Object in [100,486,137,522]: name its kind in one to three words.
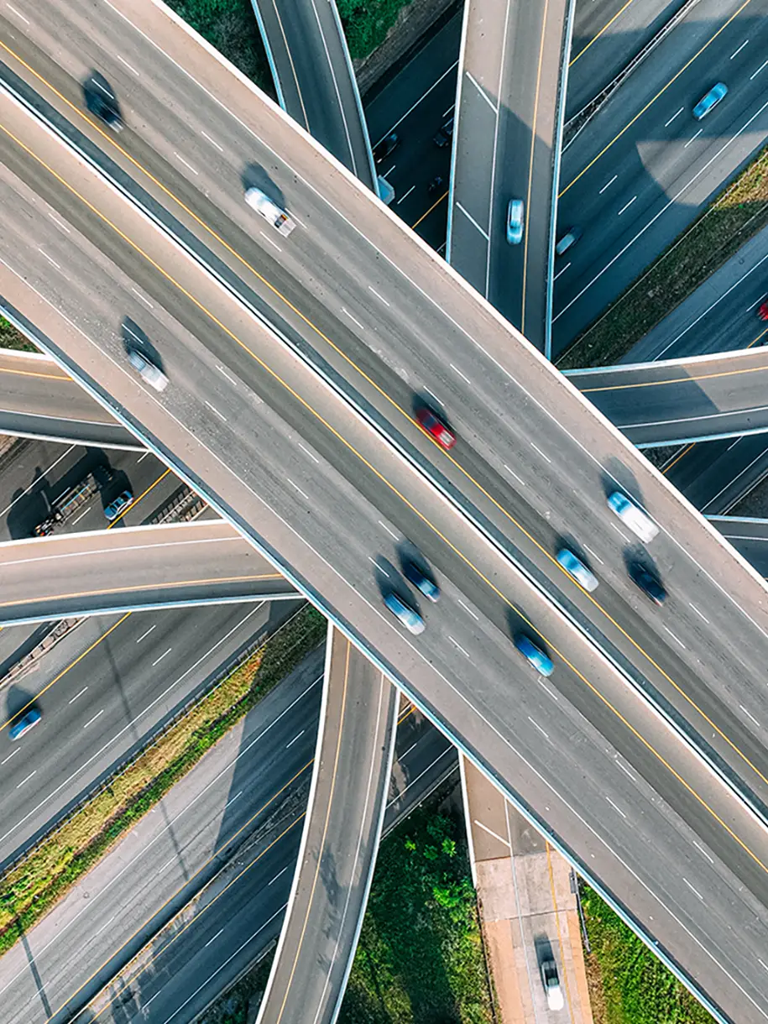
car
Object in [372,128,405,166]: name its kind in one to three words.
car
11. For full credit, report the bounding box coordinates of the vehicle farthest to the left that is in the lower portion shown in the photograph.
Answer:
[5,705,43,742]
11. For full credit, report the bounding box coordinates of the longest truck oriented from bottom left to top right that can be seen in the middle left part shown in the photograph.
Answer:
[11,456,118,541]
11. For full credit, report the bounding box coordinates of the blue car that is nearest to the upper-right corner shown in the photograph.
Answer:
[692,83,728,119]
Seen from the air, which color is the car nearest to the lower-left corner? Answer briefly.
blue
